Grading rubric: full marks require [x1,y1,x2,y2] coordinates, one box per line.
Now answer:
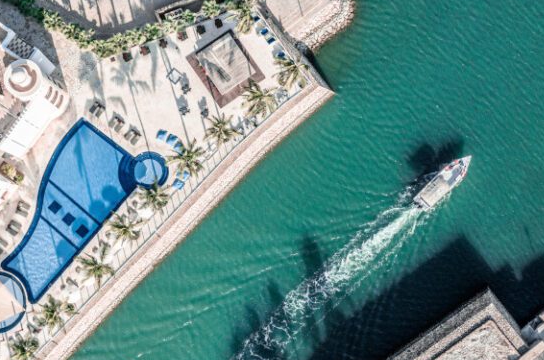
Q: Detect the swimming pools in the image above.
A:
[2,119,137,305]
[0,268,27,331]
[133,152,168,187]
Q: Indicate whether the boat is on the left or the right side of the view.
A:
right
